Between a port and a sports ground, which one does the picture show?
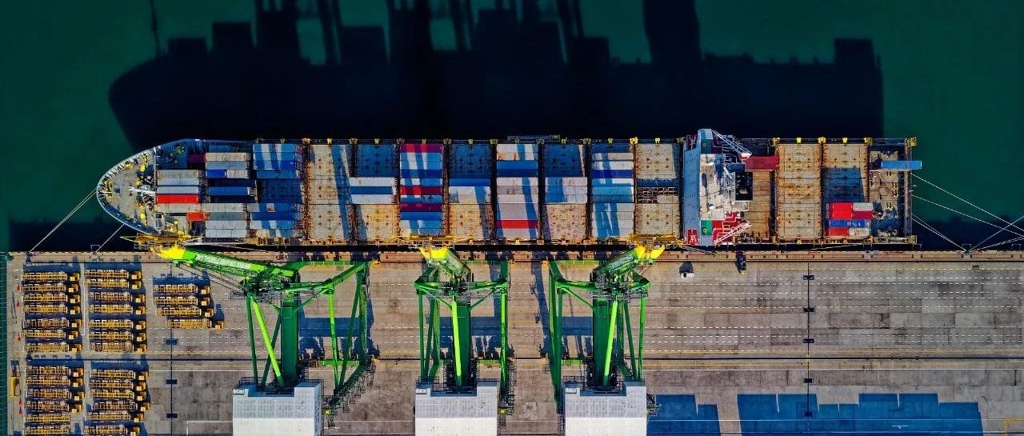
port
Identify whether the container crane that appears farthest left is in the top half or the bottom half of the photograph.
bottom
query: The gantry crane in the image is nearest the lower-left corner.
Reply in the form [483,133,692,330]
[121,230,379,436]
